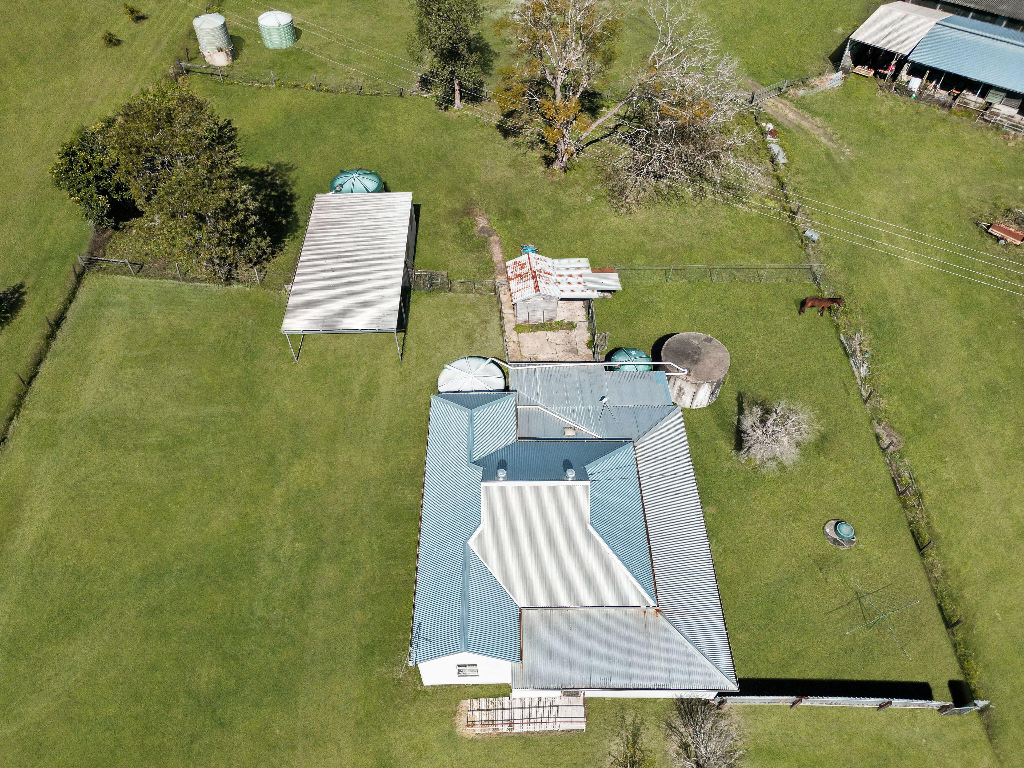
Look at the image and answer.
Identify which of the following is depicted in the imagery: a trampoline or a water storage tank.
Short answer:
water storage tank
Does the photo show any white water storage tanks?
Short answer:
Yes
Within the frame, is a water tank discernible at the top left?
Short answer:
Yes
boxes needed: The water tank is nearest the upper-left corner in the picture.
[194,13,240,65]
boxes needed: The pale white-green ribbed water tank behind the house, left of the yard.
[439,357,505,394]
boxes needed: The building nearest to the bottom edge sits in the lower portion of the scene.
[407,358,740,698]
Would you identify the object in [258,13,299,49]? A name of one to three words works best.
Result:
water tank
